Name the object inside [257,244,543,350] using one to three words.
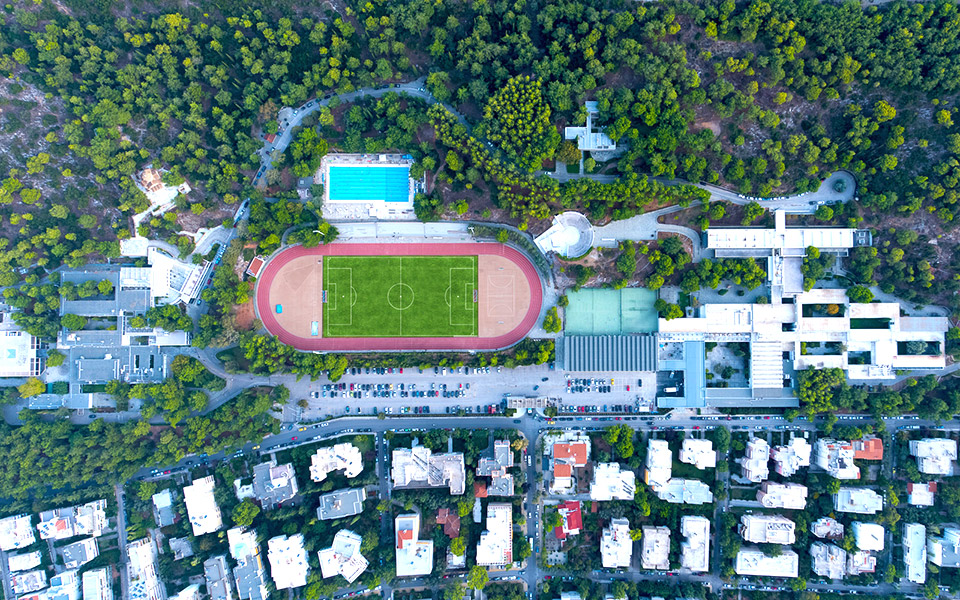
running track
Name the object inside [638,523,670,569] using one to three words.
building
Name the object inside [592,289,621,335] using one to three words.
tennis court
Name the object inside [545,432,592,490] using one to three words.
house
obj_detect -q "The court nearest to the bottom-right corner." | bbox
[622,289,657,335]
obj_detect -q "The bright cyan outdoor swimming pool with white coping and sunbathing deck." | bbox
[320,154,417,219]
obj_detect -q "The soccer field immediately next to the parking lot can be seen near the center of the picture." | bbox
[322,256,478,338]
